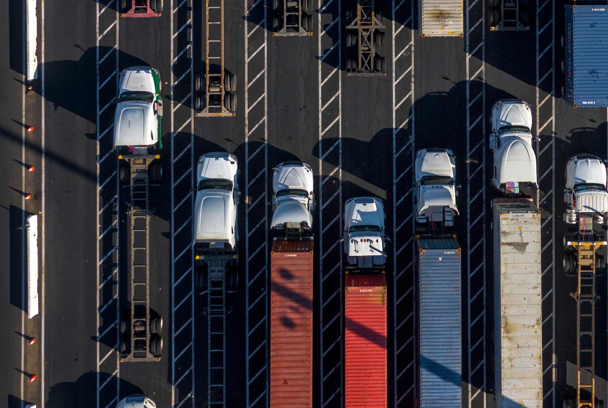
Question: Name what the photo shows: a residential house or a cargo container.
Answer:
cargo container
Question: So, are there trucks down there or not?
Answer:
Yes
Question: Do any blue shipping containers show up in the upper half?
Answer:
Yes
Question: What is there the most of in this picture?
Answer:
paved ground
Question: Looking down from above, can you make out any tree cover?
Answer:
No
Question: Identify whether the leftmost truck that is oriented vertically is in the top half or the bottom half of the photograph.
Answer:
top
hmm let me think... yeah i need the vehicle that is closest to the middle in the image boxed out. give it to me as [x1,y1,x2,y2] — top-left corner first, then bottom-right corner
[267,159,318,239]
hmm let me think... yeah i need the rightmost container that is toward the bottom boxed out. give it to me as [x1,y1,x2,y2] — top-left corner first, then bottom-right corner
[494,201,541,408]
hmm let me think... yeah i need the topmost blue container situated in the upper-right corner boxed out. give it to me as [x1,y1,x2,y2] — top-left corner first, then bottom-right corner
[564,3,608,108]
